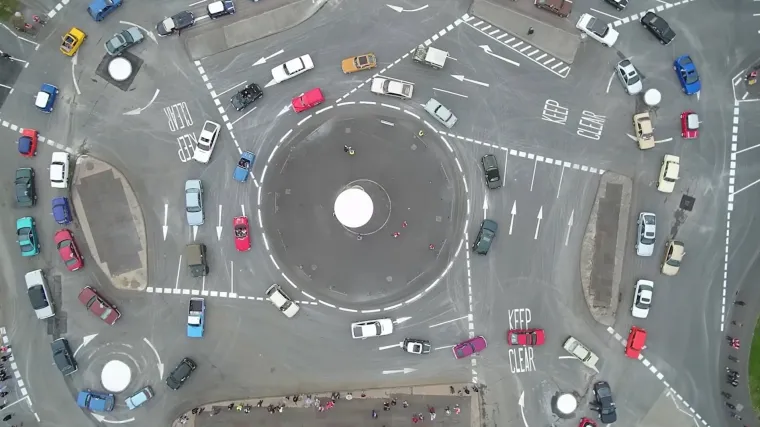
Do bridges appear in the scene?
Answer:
No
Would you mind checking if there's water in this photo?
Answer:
No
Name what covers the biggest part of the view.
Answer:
paved ground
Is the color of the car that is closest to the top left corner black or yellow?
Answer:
yellow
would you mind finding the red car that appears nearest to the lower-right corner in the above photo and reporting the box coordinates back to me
[623,326,648,359]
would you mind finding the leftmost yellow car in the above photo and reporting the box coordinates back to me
[62,29,86,56]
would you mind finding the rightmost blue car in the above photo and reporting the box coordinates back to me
[675,55,701,94]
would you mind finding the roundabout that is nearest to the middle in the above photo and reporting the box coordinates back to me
[258,101,469,313]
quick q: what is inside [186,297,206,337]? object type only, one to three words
vehicle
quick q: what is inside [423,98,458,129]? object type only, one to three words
car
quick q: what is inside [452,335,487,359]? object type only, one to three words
car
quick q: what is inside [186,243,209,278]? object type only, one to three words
vehicle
